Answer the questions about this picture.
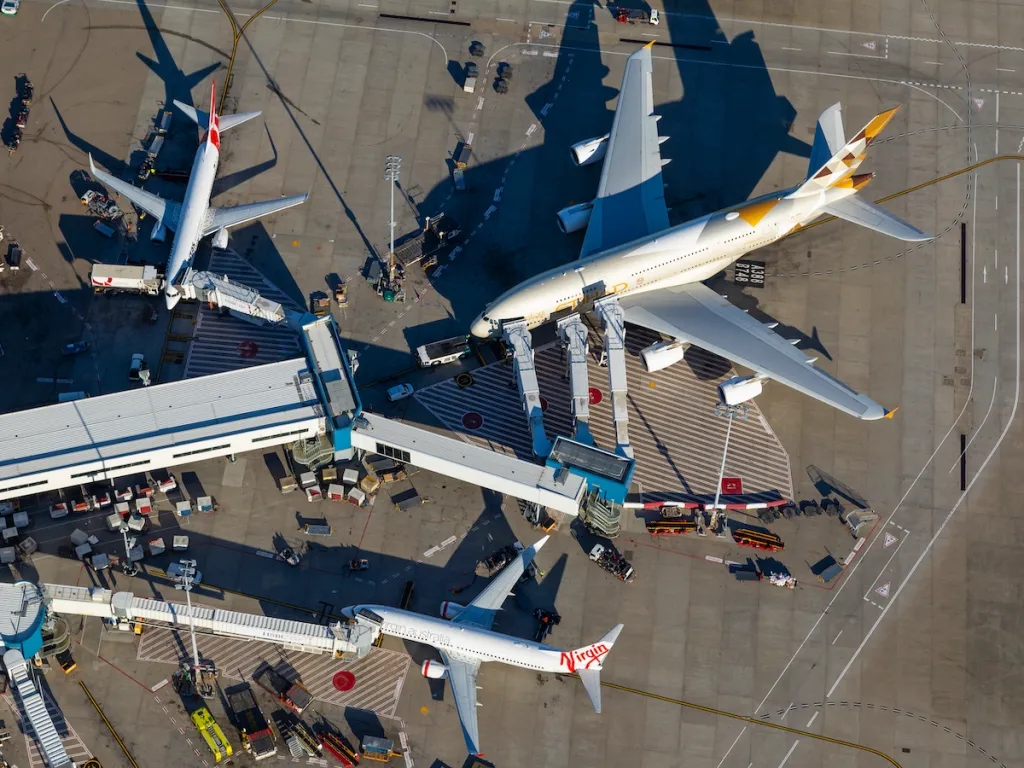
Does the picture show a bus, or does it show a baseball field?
bus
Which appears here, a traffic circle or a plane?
plane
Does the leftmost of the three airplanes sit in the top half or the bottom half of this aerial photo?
top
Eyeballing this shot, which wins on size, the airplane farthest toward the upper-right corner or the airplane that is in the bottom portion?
the airplane farthest toward the upper-right corner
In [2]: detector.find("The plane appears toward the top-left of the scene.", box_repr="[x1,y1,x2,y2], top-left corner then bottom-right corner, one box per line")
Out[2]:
[89,83,311,309]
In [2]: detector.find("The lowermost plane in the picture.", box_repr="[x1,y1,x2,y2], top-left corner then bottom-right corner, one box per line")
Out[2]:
[342,537,625,756]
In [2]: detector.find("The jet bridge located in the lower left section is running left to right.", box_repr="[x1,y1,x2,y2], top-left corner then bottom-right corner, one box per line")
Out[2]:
[128,599,383,662]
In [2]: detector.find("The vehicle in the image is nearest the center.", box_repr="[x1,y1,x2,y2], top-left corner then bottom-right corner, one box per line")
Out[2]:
[413,333,473,370]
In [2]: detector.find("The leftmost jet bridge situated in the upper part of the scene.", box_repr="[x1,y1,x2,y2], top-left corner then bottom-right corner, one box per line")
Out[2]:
[174,268,290,334]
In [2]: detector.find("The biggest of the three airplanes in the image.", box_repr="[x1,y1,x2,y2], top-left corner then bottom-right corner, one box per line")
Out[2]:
[470,42,934,420]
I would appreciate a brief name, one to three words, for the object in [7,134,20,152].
vehicle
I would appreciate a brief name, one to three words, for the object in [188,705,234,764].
work vehicle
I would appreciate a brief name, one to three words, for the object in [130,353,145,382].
vehicle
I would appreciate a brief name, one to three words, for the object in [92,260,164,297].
truck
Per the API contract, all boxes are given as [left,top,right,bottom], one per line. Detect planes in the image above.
[89,83,311,309]
[342,537,625,756]
[470,42,934,420]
